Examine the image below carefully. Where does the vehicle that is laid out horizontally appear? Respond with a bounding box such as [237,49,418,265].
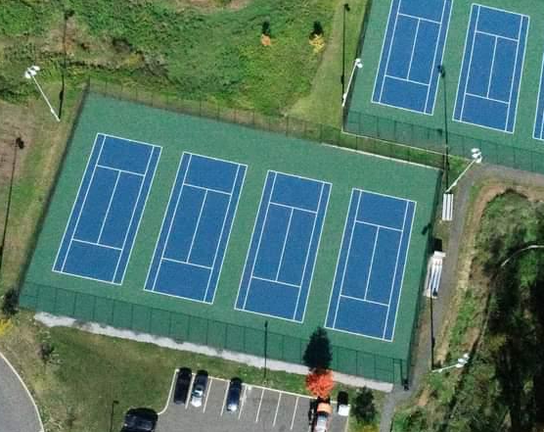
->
[124,411,158,428]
